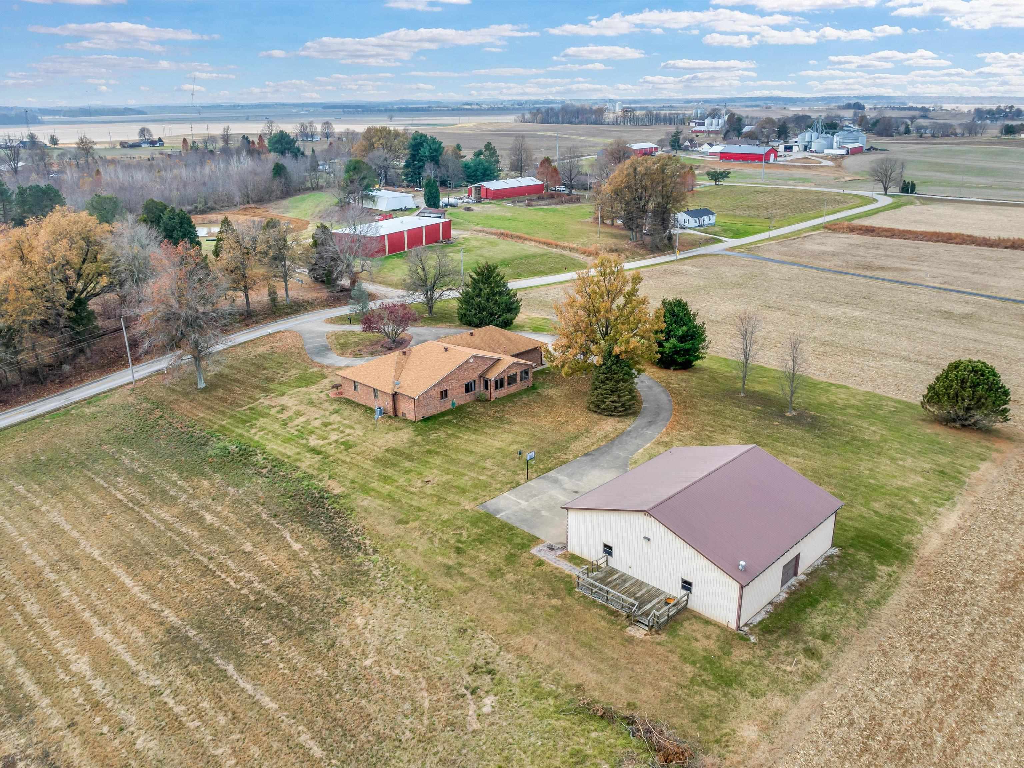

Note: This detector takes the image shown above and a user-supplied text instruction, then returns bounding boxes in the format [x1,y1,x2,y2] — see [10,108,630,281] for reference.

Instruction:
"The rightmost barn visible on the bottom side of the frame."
[561,446,845,635]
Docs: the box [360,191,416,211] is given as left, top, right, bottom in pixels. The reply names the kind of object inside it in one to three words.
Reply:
shed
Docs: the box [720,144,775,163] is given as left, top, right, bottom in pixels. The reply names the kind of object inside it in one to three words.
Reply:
barn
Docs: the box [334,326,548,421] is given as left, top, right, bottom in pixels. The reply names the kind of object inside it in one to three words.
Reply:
house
